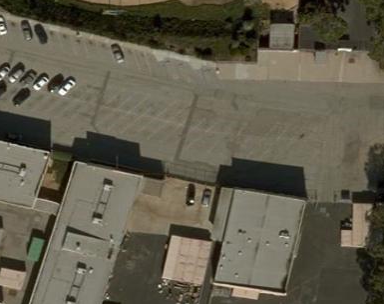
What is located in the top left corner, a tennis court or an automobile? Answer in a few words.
automobile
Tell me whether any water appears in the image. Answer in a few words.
No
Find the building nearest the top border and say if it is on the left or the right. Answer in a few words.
right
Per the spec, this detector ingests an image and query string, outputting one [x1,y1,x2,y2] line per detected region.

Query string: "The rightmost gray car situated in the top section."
[110,43,125,63]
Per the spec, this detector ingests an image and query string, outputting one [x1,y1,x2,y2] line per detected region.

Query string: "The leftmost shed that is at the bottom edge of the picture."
[0,268,27,289]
